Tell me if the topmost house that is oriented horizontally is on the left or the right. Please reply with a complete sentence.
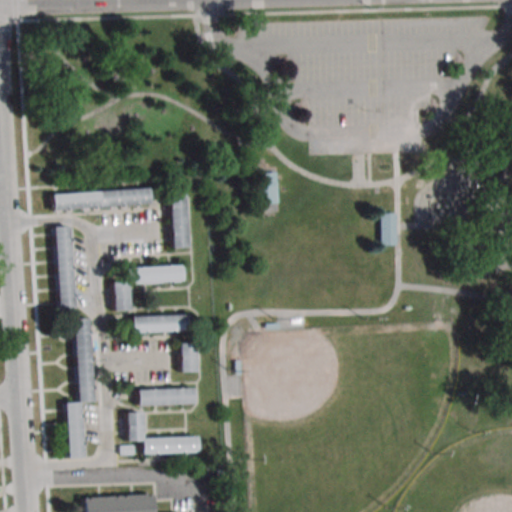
It is on the left.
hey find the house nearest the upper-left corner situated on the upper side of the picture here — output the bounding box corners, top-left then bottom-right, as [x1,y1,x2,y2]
[50,186,154,212]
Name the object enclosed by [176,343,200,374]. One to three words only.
house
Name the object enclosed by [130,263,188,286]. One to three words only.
house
